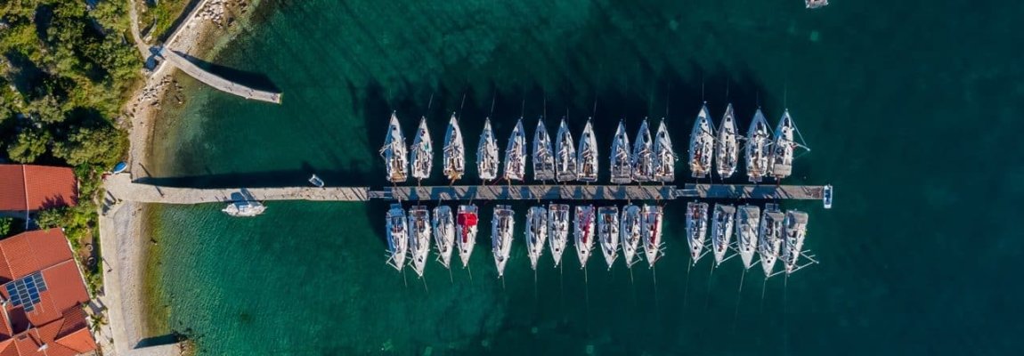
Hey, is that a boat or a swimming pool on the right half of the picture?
boat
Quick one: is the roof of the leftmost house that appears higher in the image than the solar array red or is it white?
red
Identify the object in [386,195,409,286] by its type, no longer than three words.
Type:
boat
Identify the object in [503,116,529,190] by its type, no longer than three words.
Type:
boat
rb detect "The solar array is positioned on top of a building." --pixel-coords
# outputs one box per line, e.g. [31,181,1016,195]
[6,272,47,309]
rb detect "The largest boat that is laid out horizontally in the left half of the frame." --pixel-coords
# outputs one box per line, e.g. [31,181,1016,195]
[220,201,267,217]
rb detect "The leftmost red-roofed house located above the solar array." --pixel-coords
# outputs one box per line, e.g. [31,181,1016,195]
[0,164,81,211]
